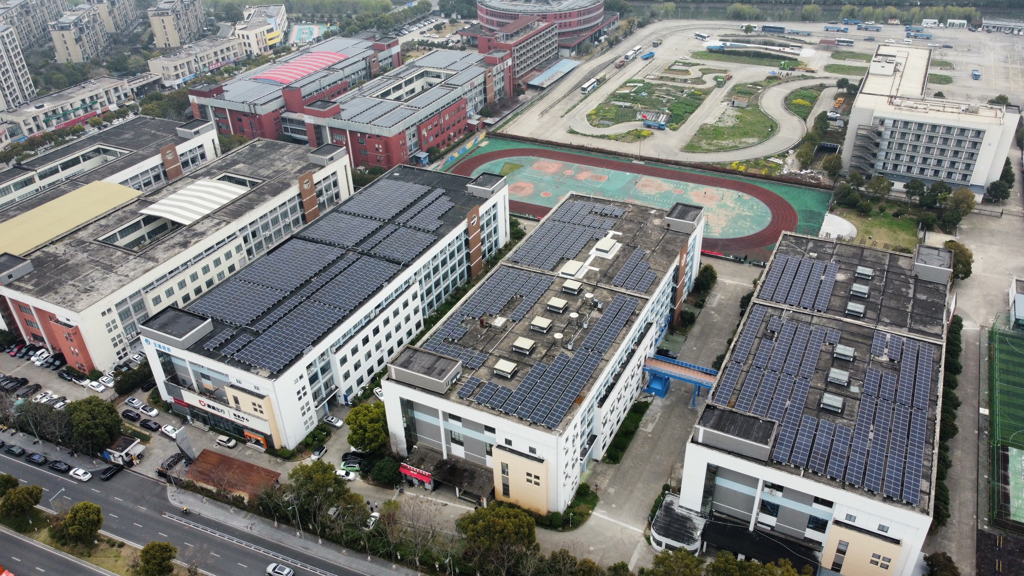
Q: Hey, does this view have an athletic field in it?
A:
Yes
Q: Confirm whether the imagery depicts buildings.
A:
Yes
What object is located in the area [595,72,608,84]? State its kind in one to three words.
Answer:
vehicle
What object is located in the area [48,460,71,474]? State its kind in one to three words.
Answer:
car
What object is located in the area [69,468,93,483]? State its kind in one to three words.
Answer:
car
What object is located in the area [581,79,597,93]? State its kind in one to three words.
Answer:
vehicle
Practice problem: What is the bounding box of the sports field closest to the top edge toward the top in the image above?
[433,135,832,270]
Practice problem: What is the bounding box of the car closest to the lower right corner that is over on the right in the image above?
[656,346,678,361]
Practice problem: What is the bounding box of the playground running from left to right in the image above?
[284,25,340,44]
